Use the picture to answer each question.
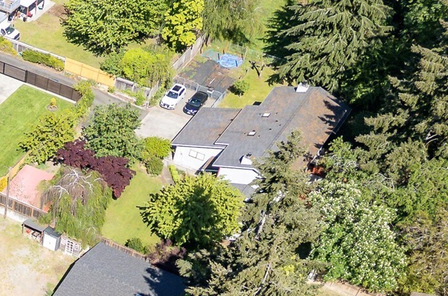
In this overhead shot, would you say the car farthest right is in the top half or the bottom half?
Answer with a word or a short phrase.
top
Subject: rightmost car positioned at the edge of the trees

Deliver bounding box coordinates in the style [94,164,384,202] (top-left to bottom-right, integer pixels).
[181,85,215,117]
